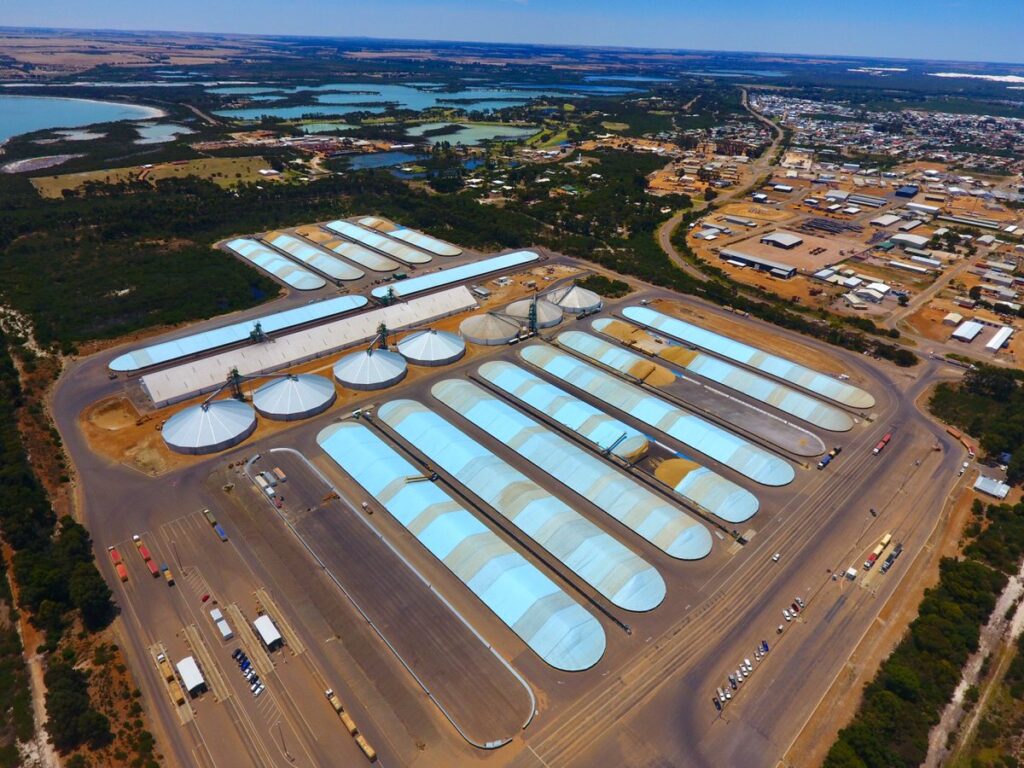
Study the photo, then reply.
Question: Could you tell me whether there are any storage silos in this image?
Yes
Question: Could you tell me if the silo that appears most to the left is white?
Yes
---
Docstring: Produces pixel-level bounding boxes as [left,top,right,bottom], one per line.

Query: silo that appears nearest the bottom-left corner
[159,398,255,455]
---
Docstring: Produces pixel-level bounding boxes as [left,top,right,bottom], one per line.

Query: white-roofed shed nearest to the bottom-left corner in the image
[175,654,207,699]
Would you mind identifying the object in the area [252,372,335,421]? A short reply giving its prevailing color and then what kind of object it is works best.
white silo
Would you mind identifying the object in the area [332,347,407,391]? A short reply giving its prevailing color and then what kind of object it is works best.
white silo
